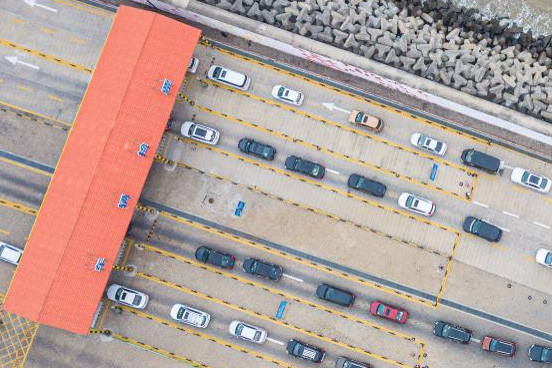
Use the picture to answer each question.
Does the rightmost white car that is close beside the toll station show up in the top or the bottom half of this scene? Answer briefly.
top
